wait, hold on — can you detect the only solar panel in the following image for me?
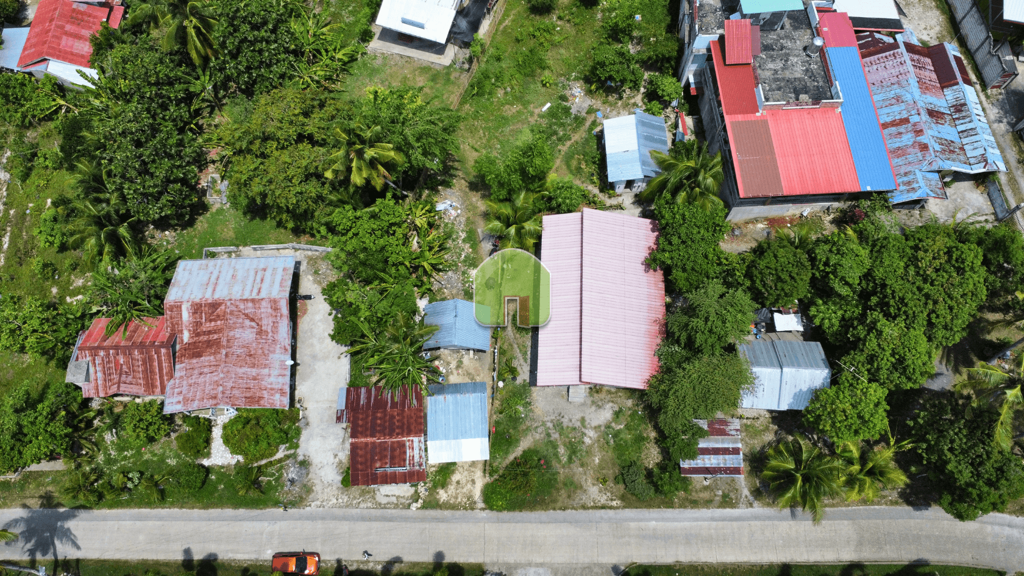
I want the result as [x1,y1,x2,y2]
[756,13,784,30]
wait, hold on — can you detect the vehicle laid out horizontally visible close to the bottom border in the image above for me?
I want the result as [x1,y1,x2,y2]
[270,554,319,576]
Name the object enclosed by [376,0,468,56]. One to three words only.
house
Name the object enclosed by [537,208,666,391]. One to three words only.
house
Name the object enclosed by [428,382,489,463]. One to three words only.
shed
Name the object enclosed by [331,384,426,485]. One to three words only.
shed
